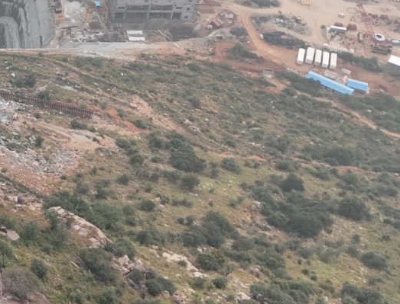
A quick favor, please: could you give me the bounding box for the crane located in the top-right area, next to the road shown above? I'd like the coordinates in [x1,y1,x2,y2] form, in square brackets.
[352,4,399,54]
